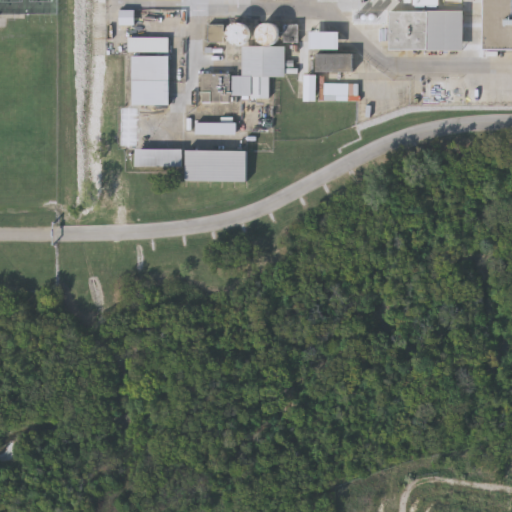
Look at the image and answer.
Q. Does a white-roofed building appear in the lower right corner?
No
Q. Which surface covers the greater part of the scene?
trees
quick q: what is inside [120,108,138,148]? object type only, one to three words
building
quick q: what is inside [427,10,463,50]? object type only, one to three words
building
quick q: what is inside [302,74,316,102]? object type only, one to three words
shed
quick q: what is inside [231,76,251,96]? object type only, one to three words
shed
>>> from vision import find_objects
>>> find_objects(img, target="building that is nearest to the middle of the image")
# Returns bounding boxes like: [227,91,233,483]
[183,150,246,182]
